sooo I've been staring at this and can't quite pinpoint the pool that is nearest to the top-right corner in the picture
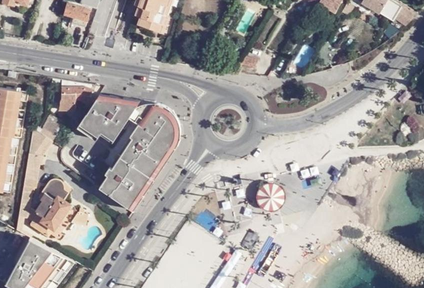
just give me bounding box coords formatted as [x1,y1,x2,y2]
[292,42,317,69]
